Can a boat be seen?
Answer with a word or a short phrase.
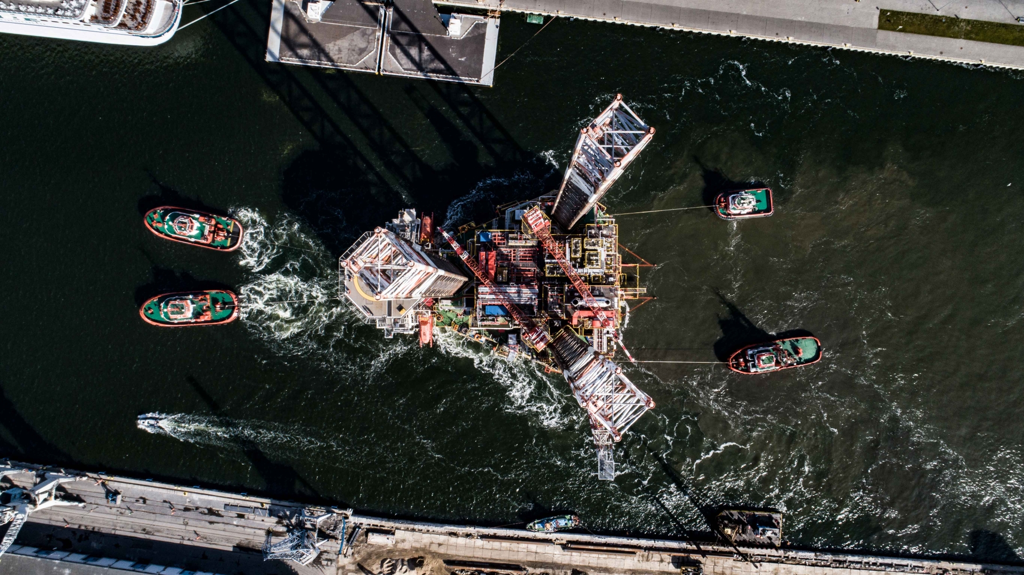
Yes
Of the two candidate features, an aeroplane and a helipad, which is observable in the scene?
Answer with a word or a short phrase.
helipad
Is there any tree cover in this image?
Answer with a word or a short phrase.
No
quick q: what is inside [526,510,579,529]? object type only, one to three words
boat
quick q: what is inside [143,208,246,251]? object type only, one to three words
boat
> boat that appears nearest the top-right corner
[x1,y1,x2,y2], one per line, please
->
[712,186,773,220]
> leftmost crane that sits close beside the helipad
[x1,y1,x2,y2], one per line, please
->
[438,227,552,353]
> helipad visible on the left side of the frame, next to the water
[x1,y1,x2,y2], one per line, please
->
[339,231,427,323]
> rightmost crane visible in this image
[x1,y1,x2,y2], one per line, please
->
[519,202,635,364]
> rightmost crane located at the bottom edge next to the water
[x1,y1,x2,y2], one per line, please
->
[261,498,344,567]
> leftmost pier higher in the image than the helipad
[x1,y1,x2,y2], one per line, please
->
[265,0,386,76]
